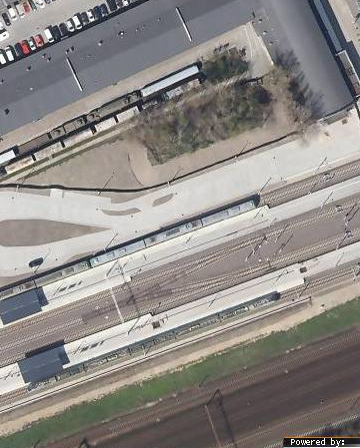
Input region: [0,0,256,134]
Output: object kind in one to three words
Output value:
shed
